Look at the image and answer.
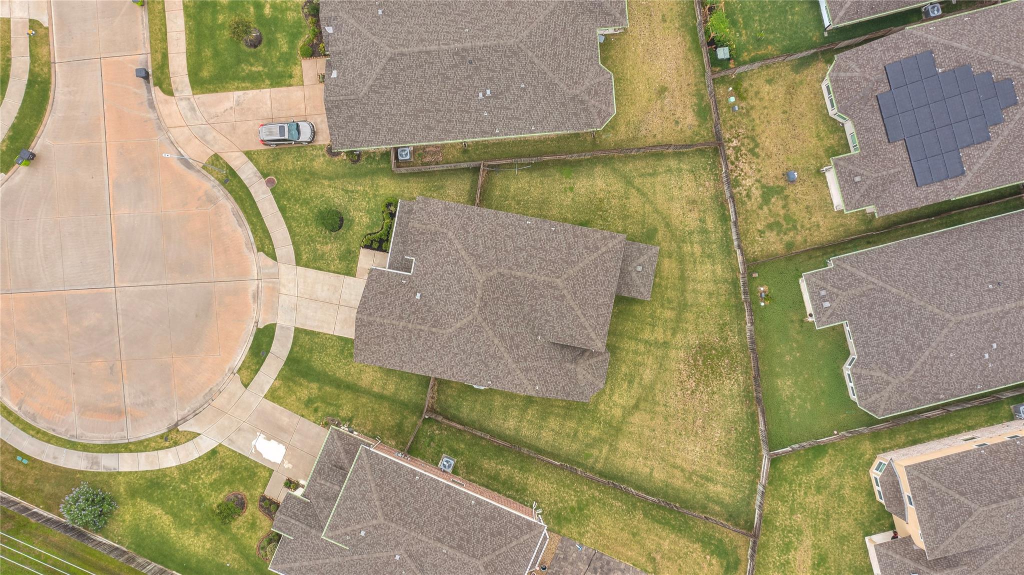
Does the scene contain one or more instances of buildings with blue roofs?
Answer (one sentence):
No, I find no building with a blue roof anywhere in the image.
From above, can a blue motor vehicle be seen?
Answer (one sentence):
No, no blue motor vehicle can be seen from above.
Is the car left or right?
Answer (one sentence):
It is on the left.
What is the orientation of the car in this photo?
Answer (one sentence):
From this overhead view, the car appears to run from side to side.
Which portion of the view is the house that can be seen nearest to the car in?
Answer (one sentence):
Look in the top portion of the view to spot the house that can be seen nearest to the car.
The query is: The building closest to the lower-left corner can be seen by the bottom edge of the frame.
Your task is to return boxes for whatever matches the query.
[268,424,550,575]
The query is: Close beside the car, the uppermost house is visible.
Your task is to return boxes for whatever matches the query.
[319,0,630,153]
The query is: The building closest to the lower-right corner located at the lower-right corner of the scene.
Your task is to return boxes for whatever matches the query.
[865,418,1024,575]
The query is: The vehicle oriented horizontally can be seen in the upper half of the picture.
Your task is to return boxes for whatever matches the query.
[256,117,318,147]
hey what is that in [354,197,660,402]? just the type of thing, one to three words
house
